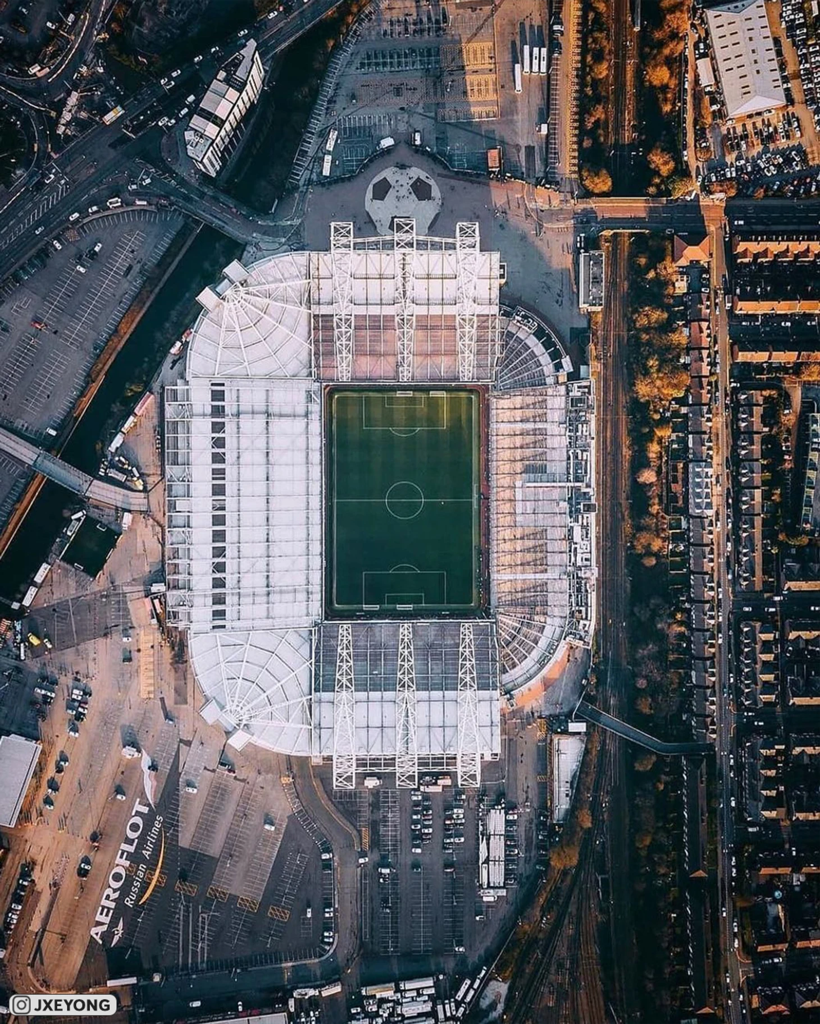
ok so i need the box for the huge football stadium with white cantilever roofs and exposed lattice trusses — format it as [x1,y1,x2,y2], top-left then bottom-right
[165,218,599,789]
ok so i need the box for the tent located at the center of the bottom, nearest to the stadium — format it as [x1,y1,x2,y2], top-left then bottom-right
[486,807,505,834]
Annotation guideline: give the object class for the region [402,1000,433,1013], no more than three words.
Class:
vehicle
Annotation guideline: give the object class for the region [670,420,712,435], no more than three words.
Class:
house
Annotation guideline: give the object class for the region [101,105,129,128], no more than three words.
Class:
bus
